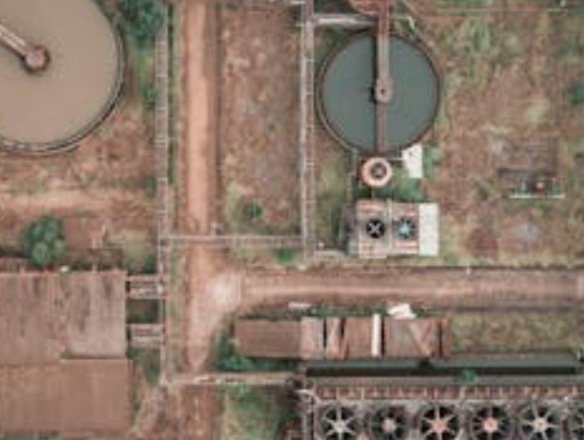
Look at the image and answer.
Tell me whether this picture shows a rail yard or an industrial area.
industrial area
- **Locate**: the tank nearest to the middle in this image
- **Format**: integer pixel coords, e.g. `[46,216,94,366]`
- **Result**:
[355,156,392,187]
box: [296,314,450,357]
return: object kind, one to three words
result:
shed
